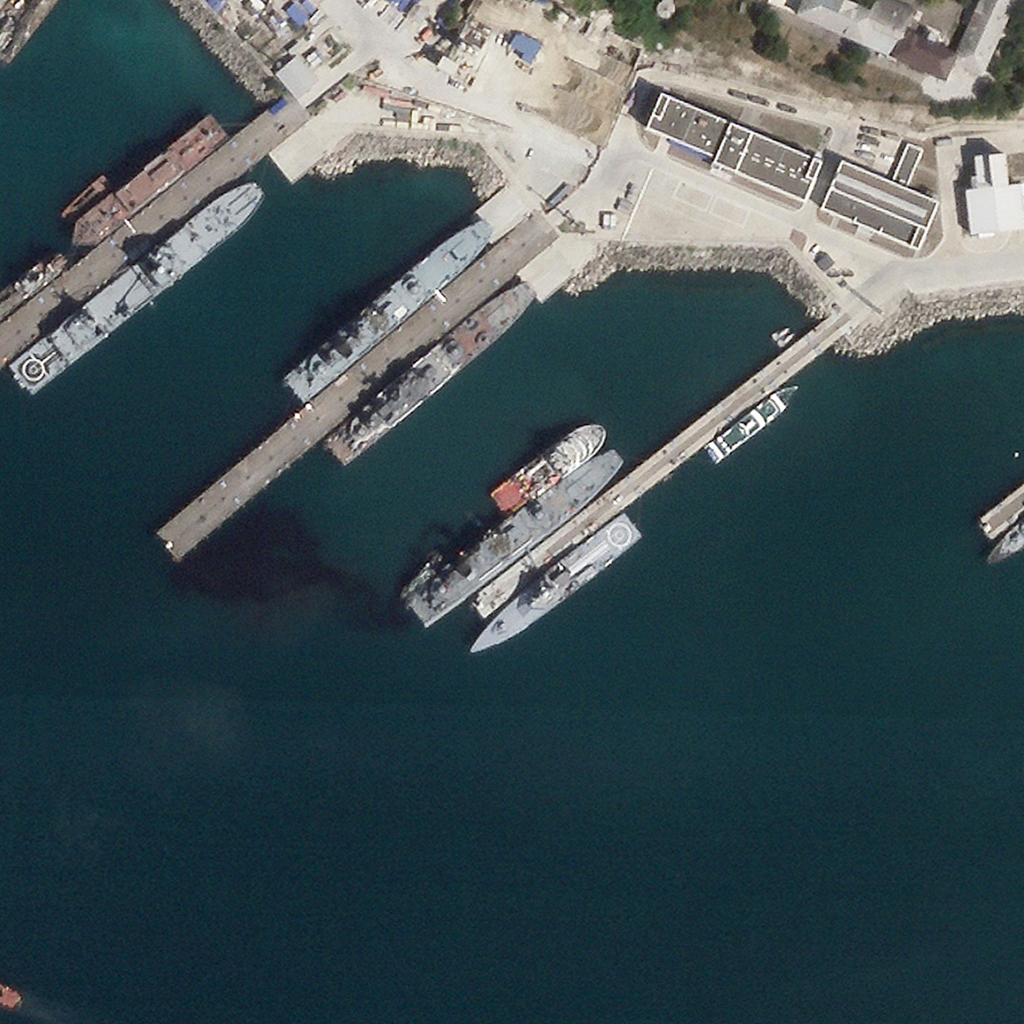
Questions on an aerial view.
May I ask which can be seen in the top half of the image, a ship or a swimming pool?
ship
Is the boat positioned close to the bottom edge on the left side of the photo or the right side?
left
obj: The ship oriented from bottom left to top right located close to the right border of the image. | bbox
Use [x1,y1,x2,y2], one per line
[987,521,1024,563]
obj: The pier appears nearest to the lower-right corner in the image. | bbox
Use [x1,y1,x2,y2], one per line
[980,484,1024,540]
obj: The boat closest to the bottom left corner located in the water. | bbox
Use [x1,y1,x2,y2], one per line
[0,981,22,1008]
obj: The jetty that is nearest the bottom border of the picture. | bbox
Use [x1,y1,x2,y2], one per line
[475,556,540,618]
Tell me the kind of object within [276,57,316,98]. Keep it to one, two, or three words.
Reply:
building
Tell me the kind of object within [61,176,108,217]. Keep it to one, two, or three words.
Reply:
boat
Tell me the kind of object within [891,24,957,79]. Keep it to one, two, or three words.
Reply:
house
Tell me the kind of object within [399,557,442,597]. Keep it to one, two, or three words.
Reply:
ship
